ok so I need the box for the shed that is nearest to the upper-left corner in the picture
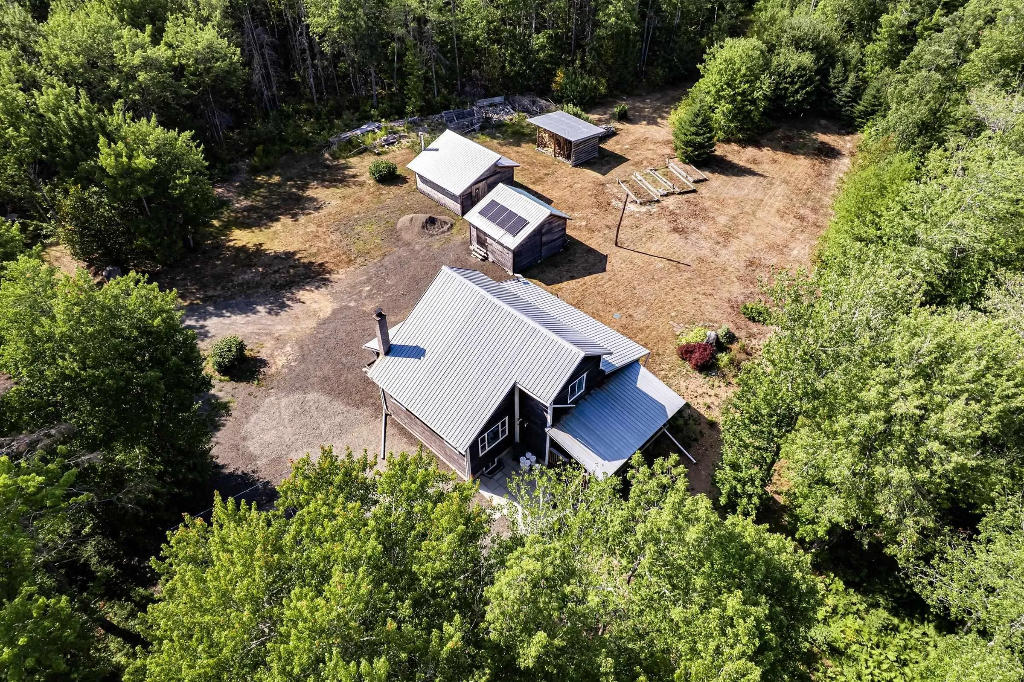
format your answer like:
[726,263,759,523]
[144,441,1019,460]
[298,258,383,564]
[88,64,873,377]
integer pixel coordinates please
[406,130,521,215]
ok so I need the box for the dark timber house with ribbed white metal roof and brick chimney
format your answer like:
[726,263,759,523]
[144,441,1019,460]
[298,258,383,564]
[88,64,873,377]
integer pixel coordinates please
[364,265,697,498]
